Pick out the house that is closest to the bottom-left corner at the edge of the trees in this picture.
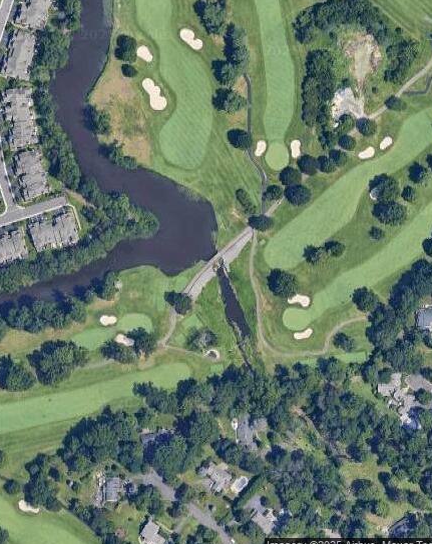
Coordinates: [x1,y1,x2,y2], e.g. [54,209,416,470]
[102,477,125,502]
